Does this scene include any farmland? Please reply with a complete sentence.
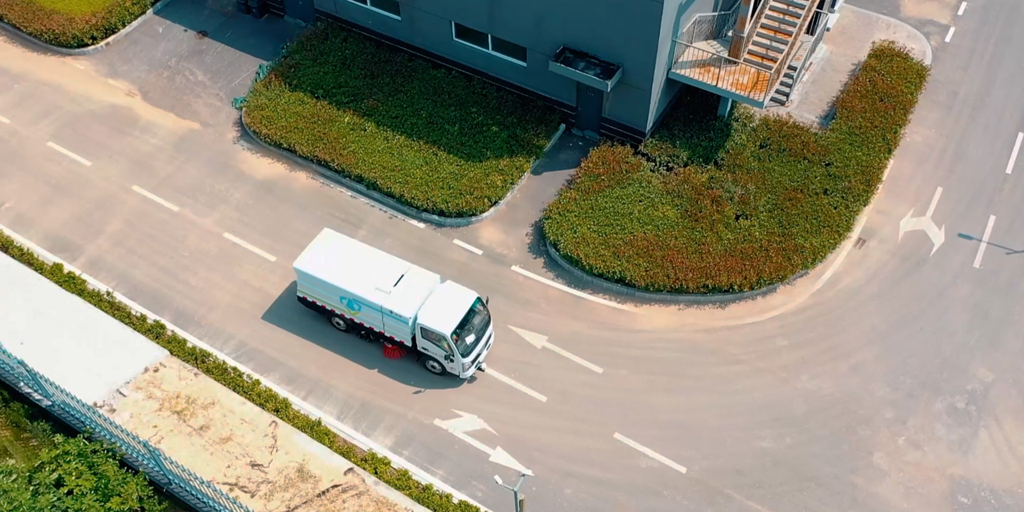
No, there is no farmland in the image.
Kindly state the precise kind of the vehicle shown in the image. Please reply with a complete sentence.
Specifically, the vehicle is a truck.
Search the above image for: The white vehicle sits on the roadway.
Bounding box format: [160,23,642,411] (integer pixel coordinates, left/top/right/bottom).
[292,230,497,381]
